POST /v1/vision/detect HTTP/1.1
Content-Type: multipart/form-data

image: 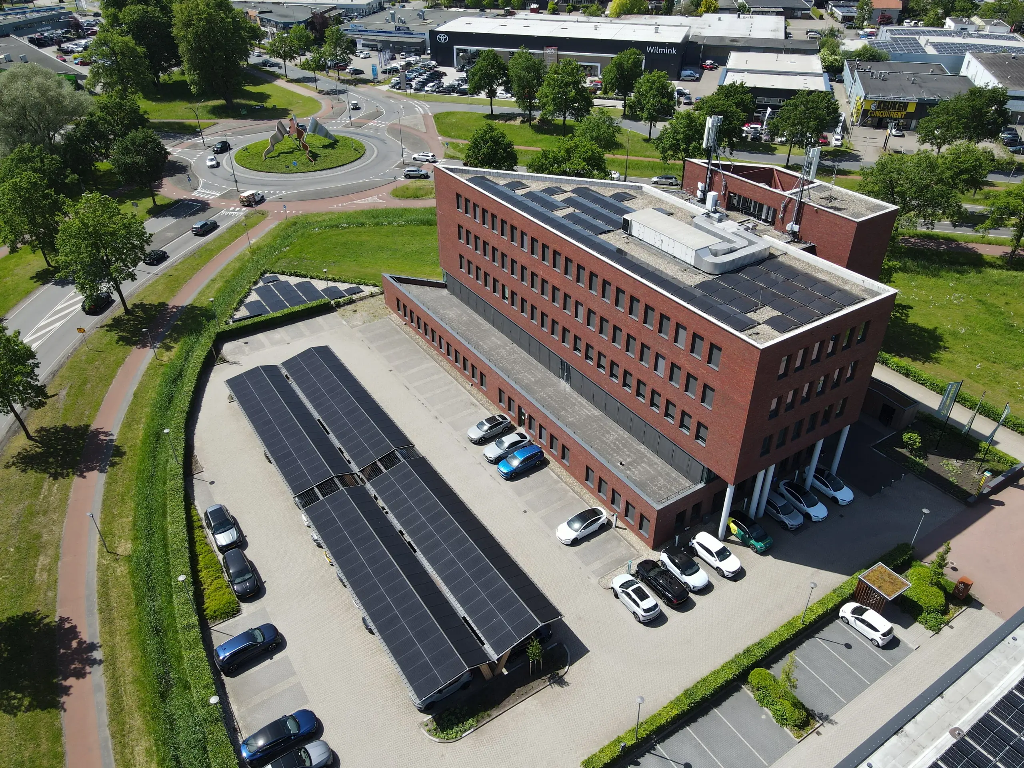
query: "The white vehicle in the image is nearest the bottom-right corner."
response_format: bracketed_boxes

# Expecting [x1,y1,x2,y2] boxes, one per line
[836,601,901,655]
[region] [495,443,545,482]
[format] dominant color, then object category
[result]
blue car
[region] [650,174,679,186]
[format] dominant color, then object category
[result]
gray vehicle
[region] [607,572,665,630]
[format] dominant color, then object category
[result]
white car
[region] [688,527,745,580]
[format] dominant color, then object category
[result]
white car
